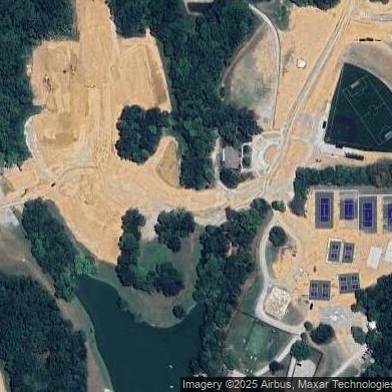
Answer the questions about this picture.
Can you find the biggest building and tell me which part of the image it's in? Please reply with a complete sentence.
The biggest building is located in the center region of the scene.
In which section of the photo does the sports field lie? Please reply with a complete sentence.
The sports field is located in the top right region of the scene.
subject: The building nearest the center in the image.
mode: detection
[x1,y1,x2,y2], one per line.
[222,146,241,170]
